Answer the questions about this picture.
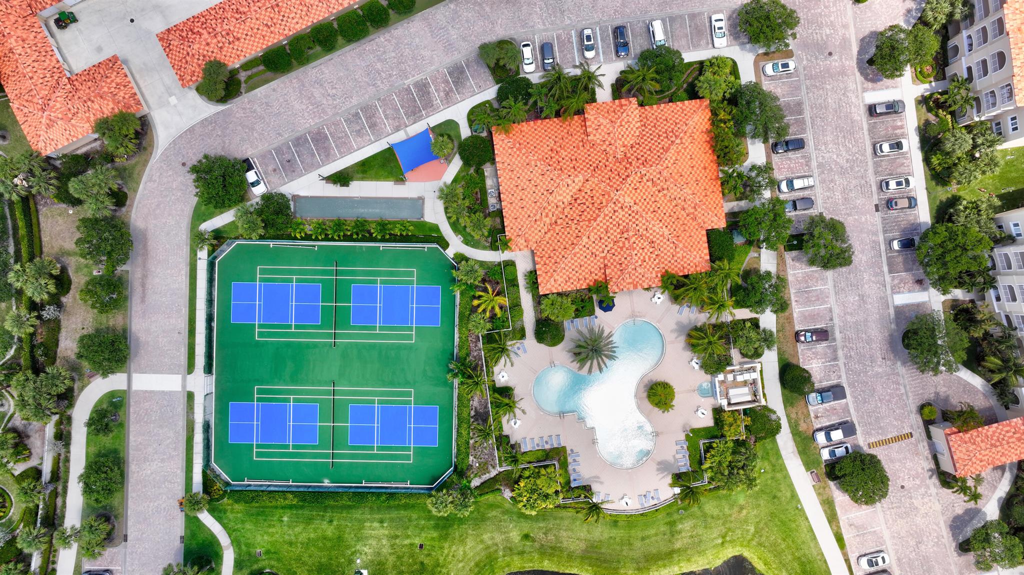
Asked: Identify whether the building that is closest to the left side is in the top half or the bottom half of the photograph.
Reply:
top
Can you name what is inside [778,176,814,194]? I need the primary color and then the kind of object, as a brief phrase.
white car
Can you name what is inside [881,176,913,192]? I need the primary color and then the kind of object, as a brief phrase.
white car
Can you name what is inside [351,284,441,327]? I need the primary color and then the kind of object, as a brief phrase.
blue sports court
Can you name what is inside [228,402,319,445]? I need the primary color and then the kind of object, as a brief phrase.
blue sports court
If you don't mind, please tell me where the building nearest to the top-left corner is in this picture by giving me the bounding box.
[0,0,149,155]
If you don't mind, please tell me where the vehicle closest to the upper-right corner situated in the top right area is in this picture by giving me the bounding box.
[869,99,903,116]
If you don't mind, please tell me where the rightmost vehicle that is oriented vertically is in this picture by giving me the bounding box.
[710,14,727,48]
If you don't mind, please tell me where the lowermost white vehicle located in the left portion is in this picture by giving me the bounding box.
[241,157,269,196]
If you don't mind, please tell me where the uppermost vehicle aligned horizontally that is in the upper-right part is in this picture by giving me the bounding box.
[762,59,796,77]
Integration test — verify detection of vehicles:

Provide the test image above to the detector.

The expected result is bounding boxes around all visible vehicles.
[782,197,815,213]
[885,196,917,210]
[762,59,796,77]
[581,27,597,60]
[710,14,727,48]
[541,40,556,72]
[857,550,890,568]
[818,443,852,460]
[614,24,630,58]
[649,18,667,49]
[813,423,855,443]
[806,385,847,406]
[795,328,829,344]
[888,236,919,250]
[869,99,903,116]
[881,176,913,192]
[241,157,269,196]
[778,176,814,194]
[771,138,806,155]
[520,39,535,74]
